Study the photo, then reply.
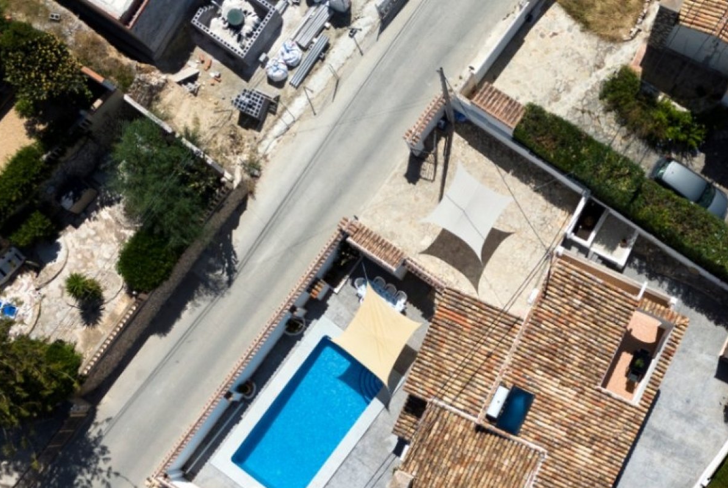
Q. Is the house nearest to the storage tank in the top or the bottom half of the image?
top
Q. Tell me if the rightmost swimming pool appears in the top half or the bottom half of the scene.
bottom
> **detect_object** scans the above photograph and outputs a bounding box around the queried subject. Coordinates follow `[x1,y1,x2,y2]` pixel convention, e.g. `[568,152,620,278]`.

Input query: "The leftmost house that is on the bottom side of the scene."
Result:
[389,246,689,488]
